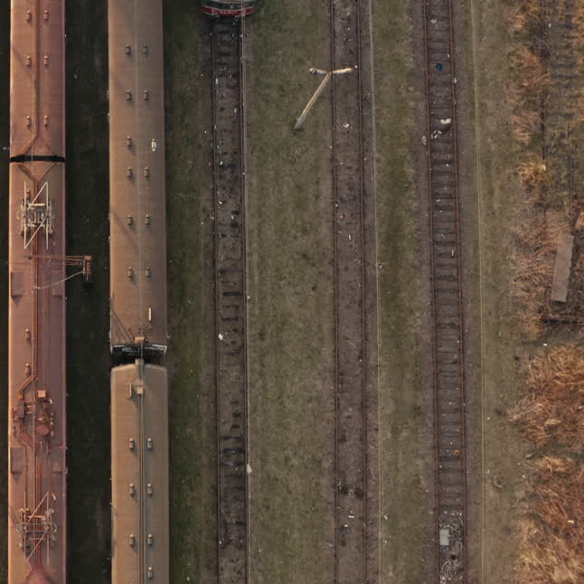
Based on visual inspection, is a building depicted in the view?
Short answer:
No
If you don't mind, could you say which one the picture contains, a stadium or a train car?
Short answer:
train car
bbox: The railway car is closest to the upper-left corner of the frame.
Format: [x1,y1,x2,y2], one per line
[11,0,66,165]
